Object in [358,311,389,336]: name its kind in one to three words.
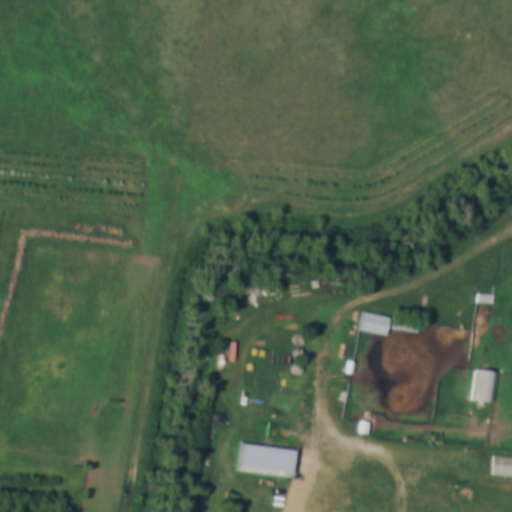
shed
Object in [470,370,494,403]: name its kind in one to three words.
house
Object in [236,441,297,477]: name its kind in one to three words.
barn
